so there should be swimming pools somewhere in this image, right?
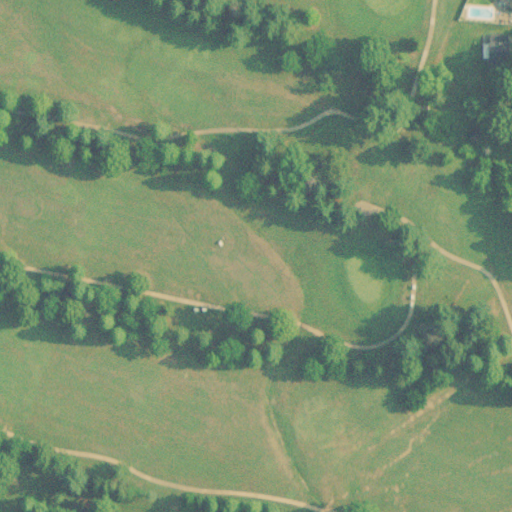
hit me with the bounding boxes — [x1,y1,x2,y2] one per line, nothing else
[468,5,497,20]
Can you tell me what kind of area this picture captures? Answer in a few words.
golf course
